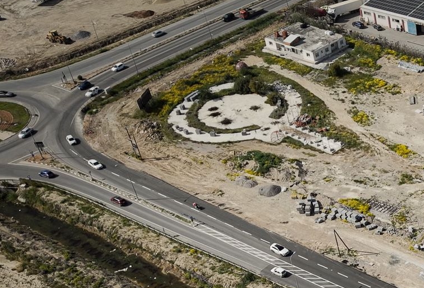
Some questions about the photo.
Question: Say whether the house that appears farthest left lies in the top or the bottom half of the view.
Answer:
top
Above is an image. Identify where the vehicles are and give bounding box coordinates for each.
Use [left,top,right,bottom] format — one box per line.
[239,9,265,19]
[111,63,125,71]
[0,91,15,98]
[17,128,35,138]
[271,243,289,256]
[309,2,327,16]
[77,82,94,90]
[373,25,383,30]
[88,160,104,169]
[327,0,368,17]
[352,21,364,28]
[51,30,74,44]
[222,14,236,20]
[270,268,290,279]
[65,136,78,145]
[38,171,55,178]
[83,87,103,97]
[109,195,129,207]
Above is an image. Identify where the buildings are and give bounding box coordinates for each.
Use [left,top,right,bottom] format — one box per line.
[258,23,354,67]
[359,0,424,35]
